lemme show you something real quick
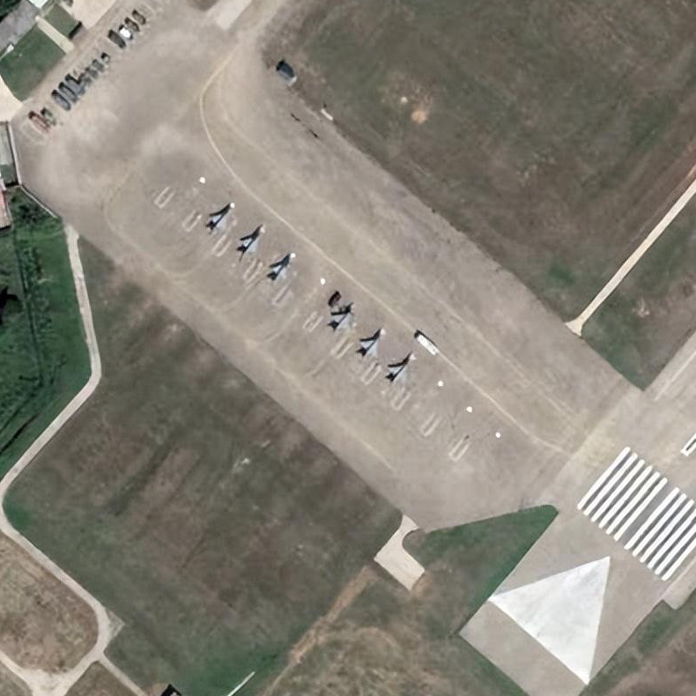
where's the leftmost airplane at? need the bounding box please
[206,205,232,235]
